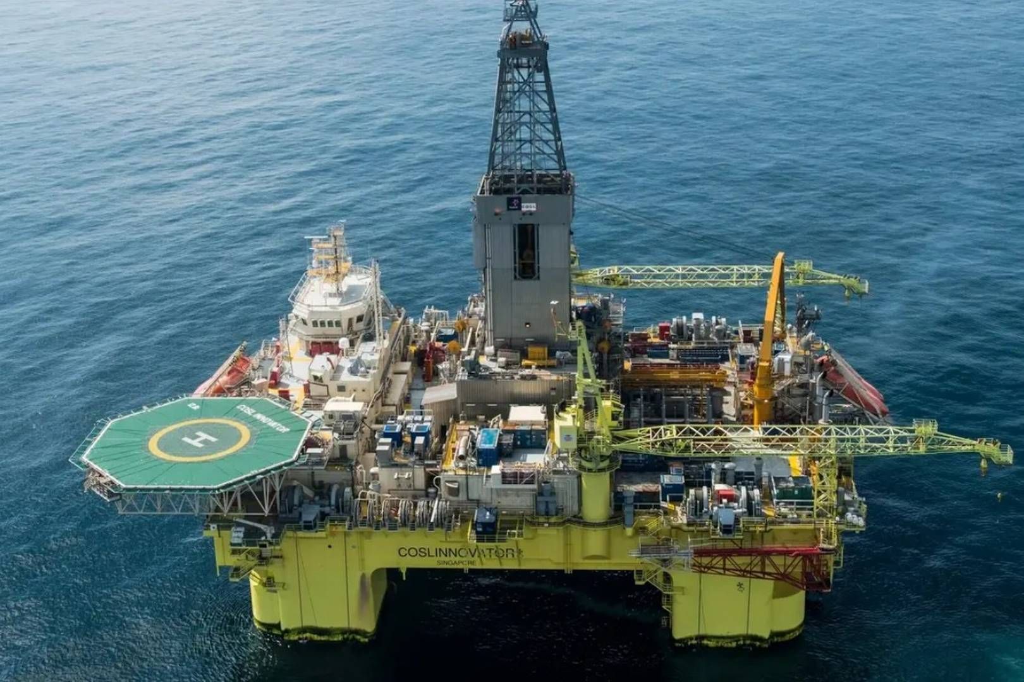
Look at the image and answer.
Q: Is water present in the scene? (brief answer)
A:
Yes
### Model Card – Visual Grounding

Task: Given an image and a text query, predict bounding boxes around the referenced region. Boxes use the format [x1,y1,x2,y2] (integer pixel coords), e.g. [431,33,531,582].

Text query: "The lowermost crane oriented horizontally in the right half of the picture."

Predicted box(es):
[547,317,1018,532]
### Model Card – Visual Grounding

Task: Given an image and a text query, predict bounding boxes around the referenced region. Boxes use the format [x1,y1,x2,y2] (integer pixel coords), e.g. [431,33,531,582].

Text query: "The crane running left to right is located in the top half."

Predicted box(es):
[572,234,873,306]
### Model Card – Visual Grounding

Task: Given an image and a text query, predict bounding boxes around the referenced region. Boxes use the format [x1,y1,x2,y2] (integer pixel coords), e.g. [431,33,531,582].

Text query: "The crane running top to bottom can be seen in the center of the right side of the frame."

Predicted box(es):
[752,247,788,440]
